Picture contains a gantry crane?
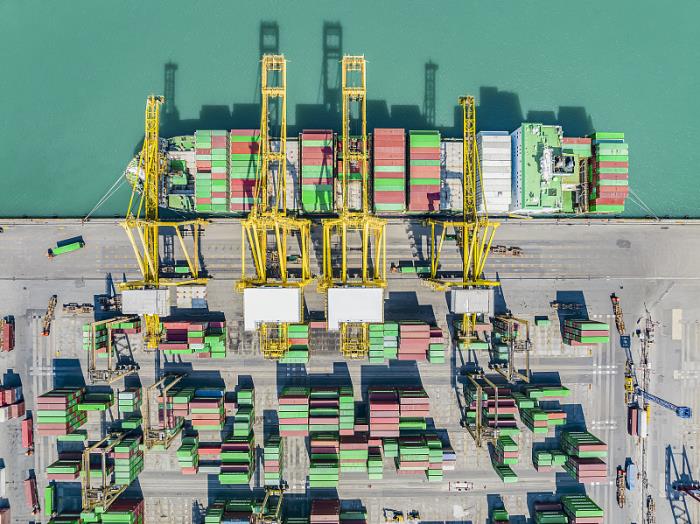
Yes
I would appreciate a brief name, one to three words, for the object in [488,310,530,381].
container crane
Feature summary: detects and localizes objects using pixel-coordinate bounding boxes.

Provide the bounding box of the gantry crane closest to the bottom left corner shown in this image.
[82,428,134,512]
